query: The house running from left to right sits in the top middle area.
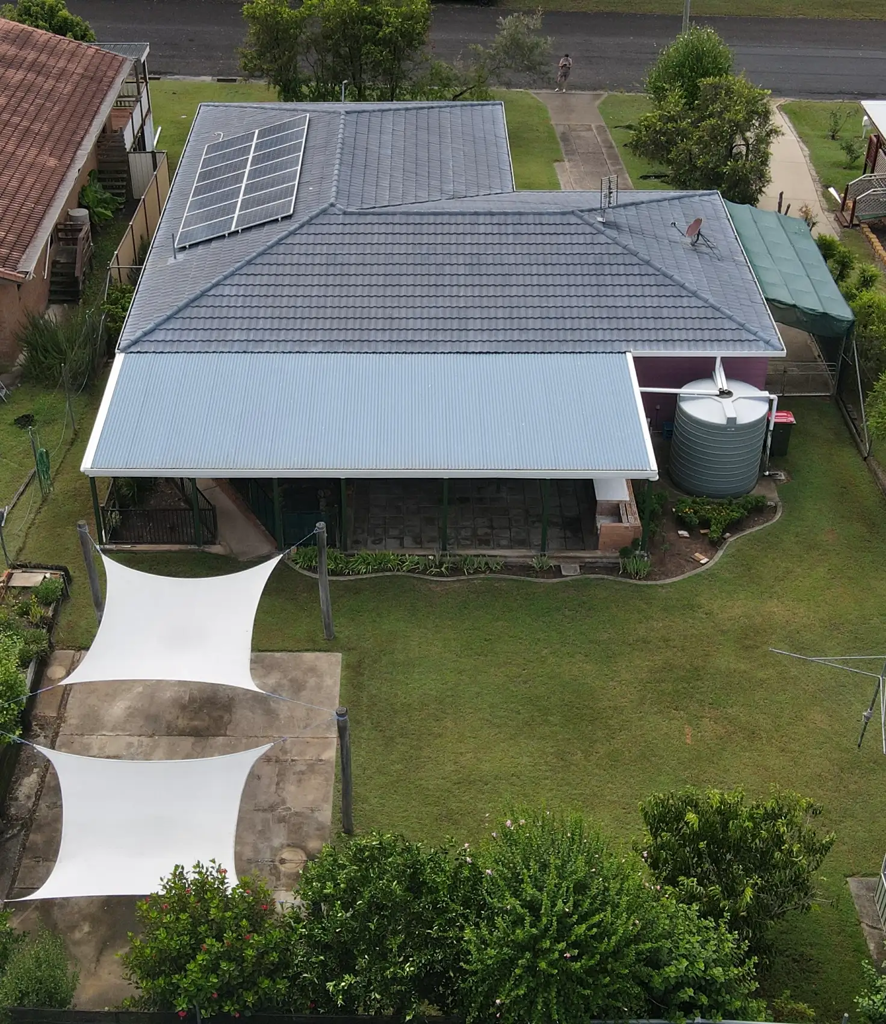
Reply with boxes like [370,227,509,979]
[115,101,789,424]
